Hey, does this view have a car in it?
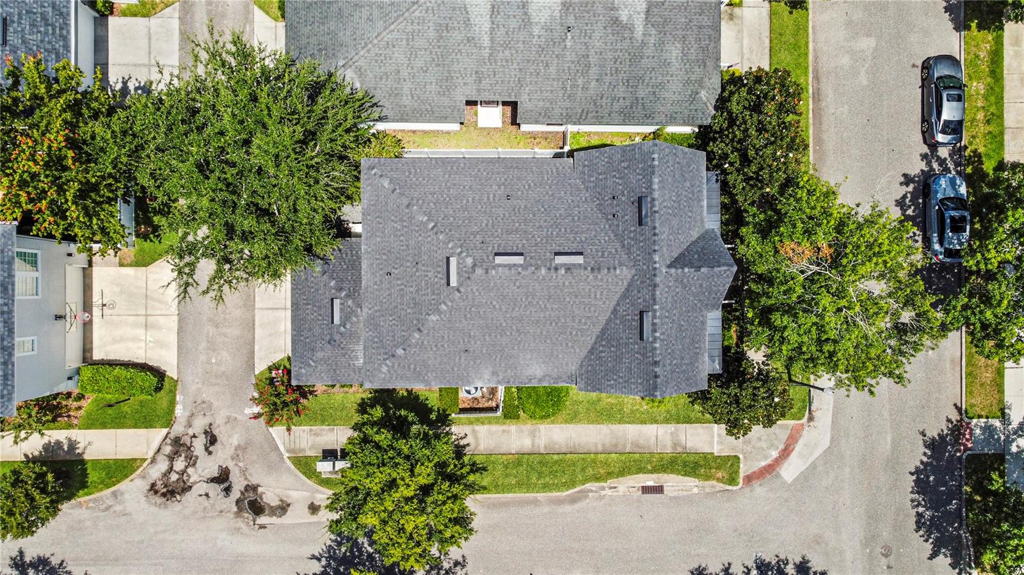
Yes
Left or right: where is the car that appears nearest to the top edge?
right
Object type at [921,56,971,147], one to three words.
car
